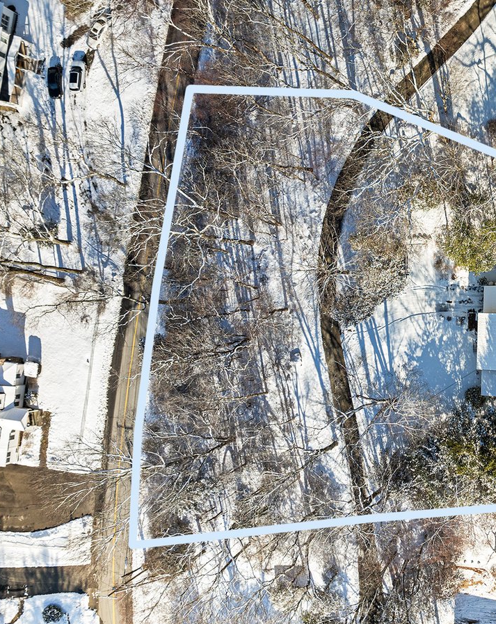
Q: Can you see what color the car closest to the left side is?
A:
black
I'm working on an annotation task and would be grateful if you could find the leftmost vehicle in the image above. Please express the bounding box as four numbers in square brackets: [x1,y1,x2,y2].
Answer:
[41,63,61,98]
